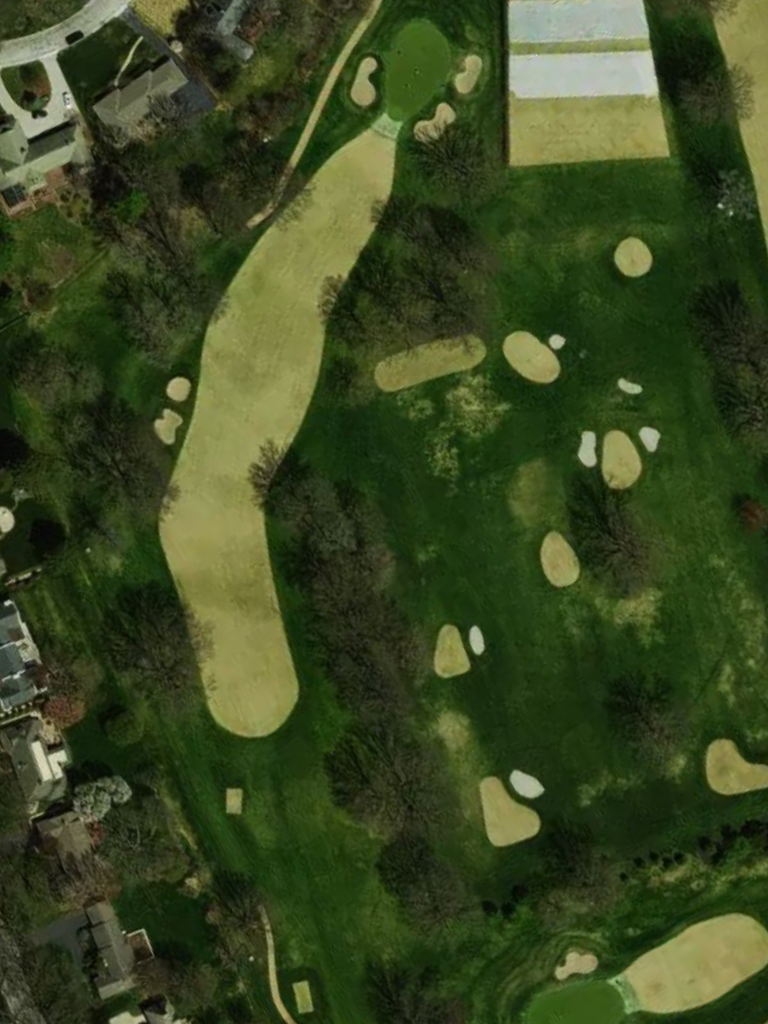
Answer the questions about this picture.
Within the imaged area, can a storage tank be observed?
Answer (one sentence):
No, there isn't any storage tank down there.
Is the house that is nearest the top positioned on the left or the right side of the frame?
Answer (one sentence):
It is on the left.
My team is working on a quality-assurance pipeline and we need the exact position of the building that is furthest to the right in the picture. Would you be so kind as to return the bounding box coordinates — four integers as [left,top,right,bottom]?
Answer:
[197,0,256,61]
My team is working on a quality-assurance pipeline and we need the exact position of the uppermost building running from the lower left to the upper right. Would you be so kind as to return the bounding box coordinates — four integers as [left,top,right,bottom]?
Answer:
[89,54,188,139]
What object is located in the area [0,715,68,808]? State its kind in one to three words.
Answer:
house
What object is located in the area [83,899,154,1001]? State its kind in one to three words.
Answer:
house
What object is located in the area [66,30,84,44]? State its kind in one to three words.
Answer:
car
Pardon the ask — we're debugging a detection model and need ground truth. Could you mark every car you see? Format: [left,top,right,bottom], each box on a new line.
[66,30,84,44]
[63,92,72,109]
